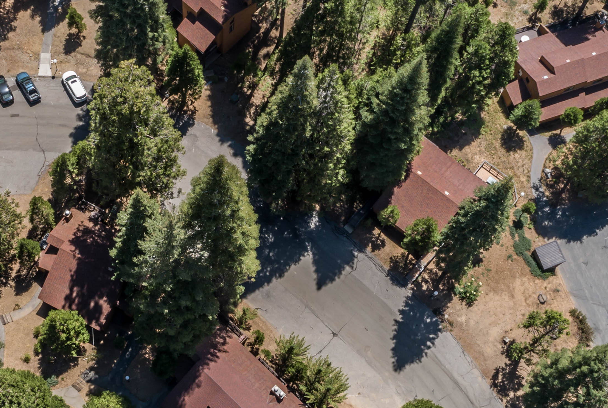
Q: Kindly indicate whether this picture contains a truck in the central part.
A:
No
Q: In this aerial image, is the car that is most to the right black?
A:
No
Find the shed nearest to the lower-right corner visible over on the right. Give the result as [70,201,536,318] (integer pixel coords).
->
[528,241,566,274]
